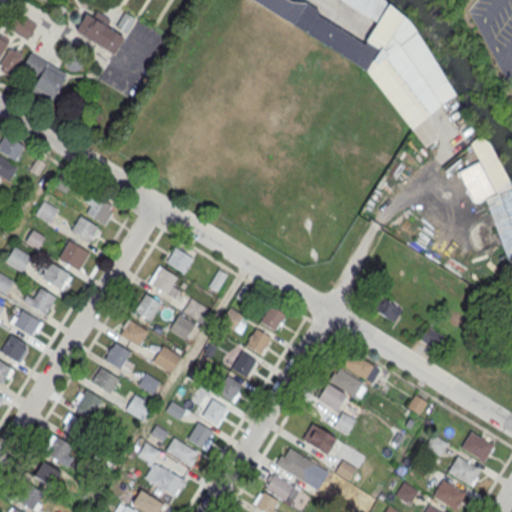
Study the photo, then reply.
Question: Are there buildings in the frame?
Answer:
Yes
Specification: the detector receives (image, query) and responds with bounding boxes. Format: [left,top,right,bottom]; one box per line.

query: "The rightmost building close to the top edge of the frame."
[367,2,458,128]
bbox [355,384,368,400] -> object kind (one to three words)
vehicle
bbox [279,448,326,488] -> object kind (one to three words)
house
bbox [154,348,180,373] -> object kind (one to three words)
building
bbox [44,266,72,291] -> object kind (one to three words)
house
